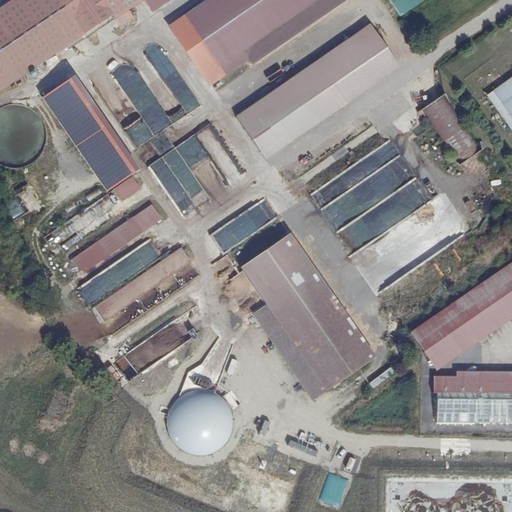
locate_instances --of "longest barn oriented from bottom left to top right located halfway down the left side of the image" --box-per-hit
[70,204,162,274]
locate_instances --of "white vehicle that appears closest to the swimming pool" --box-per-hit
[346,456,358,474]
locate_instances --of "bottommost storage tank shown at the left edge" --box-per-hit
[0,103,46,168]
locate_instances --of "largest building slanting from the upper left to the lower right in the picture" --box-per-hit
[240,233,374,391]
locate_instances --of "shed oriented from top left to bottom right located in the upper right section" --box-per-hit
[422,94,482,163]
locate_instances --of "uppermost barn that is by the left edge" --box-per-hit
[0,0,140,92]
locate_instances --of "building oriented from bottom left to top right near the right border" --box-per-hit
[412,263,512,371]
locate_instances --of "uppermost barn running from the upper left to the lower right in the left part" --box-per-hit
[44,74,140,190]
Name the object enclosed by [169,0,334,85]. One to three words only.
barn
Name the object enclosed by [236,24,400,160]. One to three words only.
barn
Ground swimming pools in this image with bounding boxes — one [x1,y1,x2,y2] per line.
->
[318,470,352,510]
